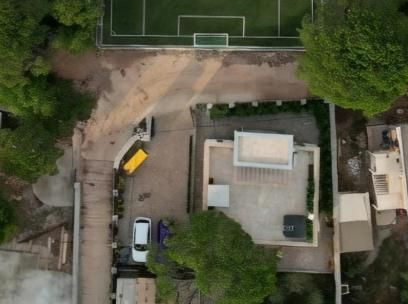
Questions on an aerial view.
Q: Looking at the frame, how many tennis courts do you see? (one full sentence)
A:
Not a single tennis court can be seen.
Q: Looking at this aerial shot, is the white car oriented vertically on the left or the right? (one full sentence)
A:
The white car oriented vertically sits on the left side.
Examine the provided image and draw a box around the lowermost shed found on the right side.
[341,189,375,254]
